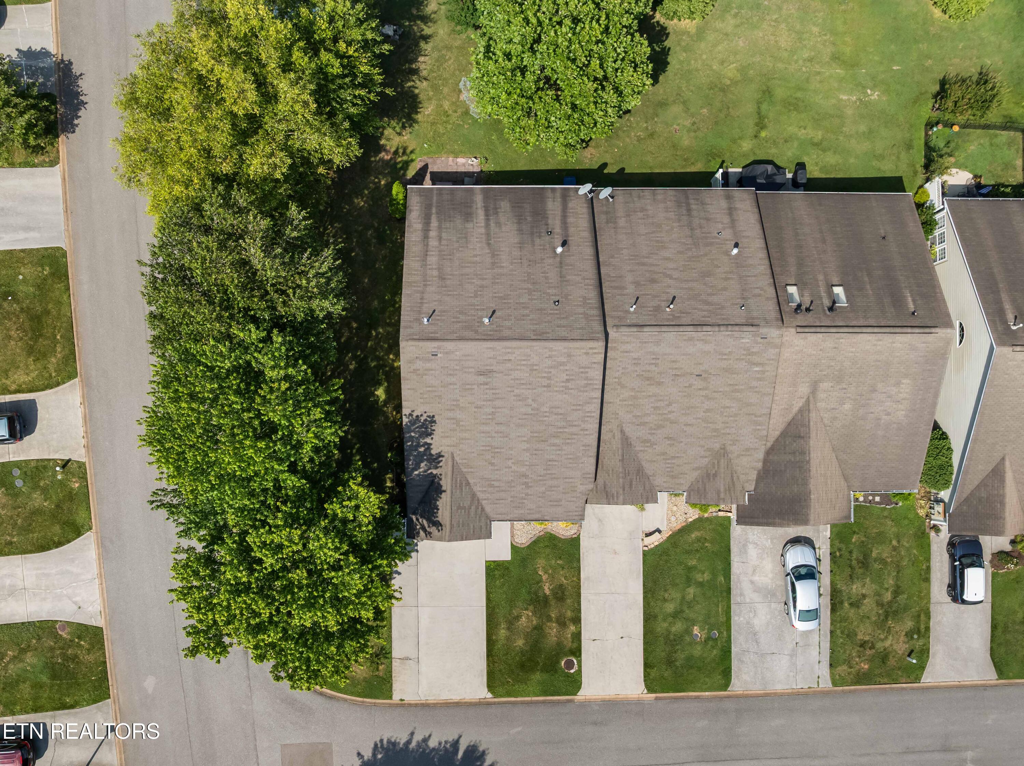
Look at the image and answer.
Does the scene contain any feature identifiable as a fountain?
No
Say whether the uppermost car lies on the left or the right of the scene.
left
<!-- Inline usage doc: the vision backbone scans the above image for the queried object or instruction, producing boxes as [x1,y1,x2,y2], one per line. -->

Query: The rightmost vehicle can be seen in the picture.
[941,539,988,609]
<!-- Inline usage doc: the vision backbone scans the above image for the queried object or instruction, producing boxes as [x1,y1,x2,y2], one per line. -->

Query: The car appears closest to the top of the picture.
[0,411,25,448]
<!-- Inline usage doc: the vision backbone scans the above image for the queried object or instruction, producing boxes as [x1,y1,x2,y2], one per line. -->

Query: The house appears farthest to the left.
[400,183,606,542]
